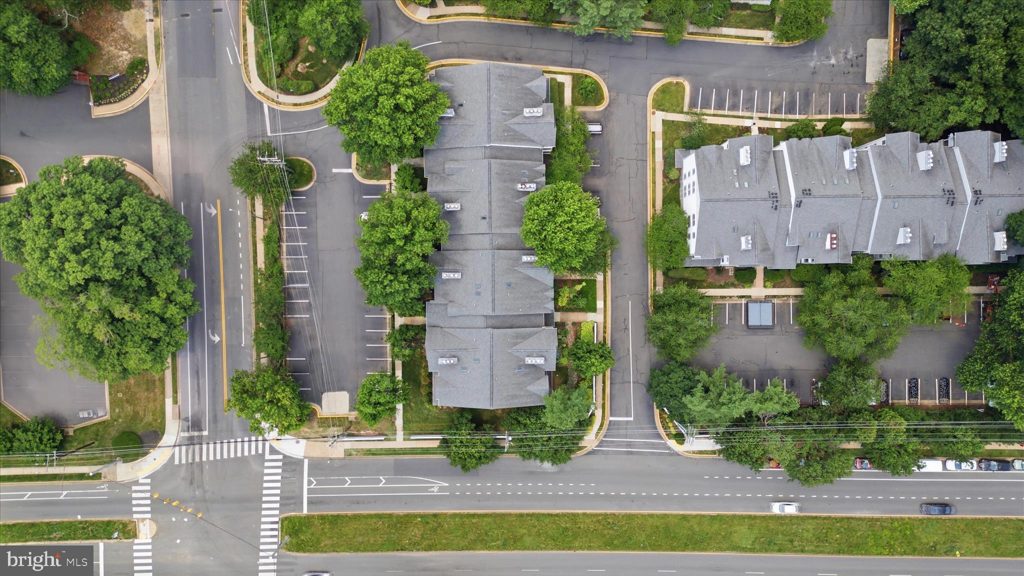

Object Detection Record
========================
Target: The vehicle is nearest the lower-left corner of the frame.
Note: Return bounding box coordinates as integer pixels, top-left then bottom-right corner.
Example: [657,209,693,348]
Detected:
[76,407,108,420]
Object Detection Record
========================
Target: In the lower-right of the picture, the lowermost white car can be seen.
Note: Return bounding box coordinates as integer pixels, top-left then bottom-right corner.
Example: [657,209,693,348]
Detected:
[770,501,799,515]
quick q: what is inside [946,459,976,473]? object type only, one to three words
car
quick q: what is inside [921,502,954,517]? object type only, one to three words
car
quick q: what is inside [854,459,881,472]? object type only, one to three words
vehicle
